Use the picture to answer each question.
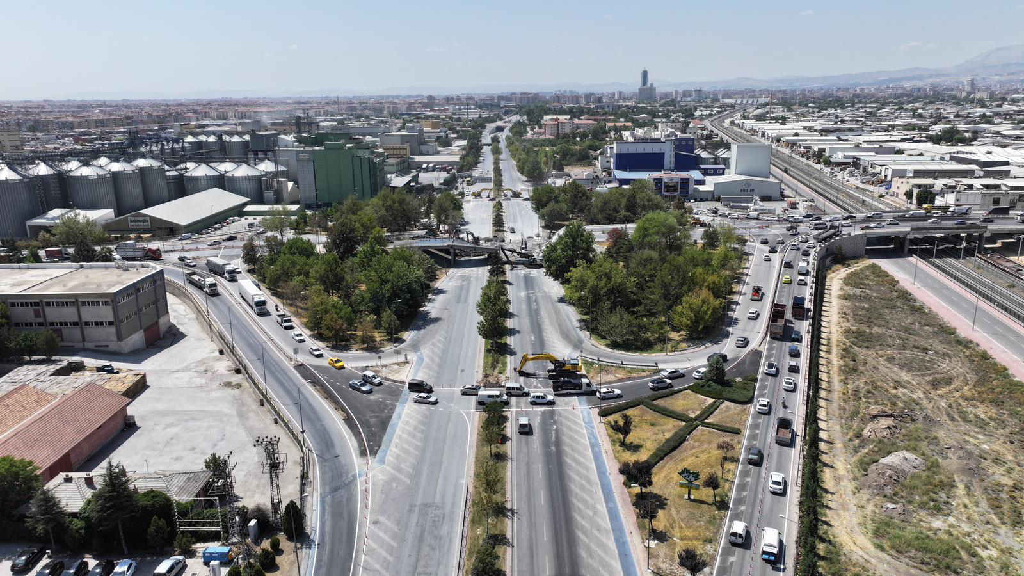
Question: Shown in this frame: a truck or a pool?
truck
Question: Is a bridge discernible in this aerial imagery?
Yes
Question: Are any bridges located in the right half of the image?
Yes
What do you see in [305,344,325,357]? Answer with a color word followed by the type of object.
white vehicle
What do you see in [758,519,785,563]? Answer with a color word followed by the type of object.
white vehicle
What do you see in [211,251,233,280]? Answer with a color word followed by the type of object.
white truck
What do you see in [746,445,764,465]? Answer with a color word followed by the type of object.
gray car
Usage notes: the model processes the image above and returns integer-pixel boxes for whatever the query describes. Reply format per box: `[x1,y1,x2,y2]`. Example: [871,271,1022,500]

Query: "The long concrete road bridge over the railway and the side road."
[846,211,1024,256]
